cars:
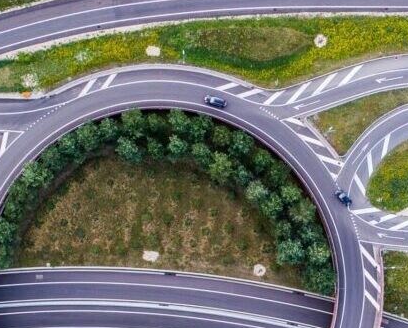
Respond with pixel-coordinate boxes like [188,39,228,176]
[332,188,354,207]
[204,94,227,108]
